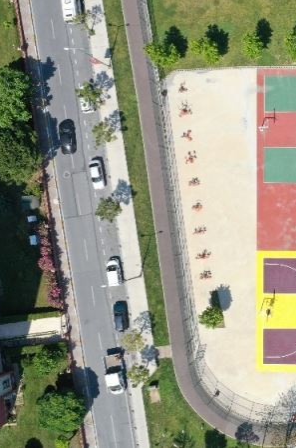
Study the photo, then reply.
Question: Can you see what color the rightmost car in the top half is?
white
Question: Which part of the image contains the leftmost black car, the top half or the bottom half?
top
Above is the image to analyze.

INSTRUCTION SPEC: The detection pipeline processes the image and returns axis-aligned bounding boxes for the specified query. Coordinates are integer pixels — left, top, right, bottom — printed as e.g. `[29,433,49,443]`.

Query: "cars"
[69,80,90,114]
[109,300,129,335]
[84,156,105,191]
[55,116,76,155]
[102,256,122,289]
